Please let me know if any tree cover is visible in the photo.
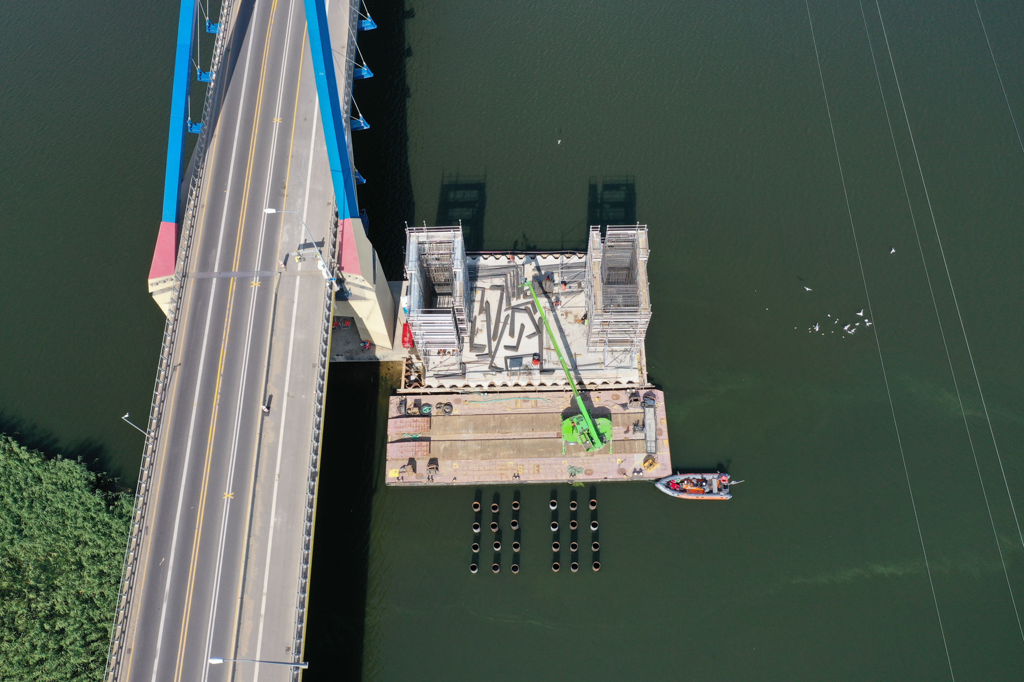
No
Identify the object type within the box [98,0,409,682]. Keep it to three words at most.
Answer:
bridge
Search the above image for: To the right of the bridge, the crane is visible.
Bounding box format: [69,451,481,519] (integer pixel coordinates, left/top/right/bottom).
[518,280,614,458]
